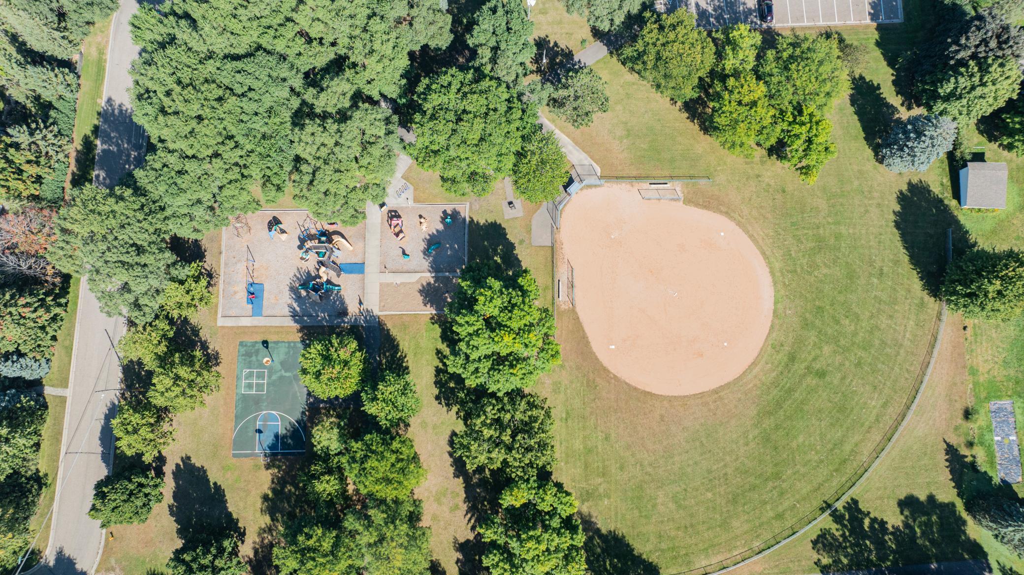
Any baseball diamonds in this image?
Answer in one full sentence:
Yes, the photo shows a baseball diamond.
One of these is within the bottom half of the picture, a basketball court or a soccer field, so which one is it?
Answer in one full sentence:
It is a basketball court that can be seen within the bottom half of the picture.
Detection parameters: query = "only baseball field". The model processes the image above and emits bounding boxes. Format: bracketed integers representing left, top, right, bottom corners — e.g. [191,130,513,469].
[555,182,774,396]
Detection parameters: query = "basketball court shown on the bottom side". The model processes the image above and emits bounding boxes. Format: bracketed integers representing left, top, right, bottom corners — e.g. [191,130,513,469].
[232,341,307,458]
